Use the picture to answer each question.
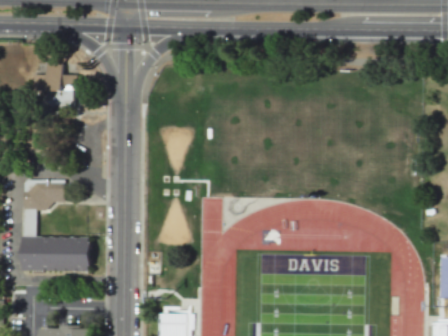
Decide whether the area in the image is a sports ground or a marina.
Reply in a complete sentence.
The area seen from above is a sports ground.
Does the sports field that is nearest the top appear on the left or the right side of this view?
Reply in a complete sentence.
It is on the right.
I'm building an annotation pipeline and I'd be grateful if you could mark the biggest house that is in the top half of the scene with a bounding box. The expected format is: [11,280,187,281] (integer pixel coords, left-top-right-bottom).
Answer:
[38,64,78,94]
